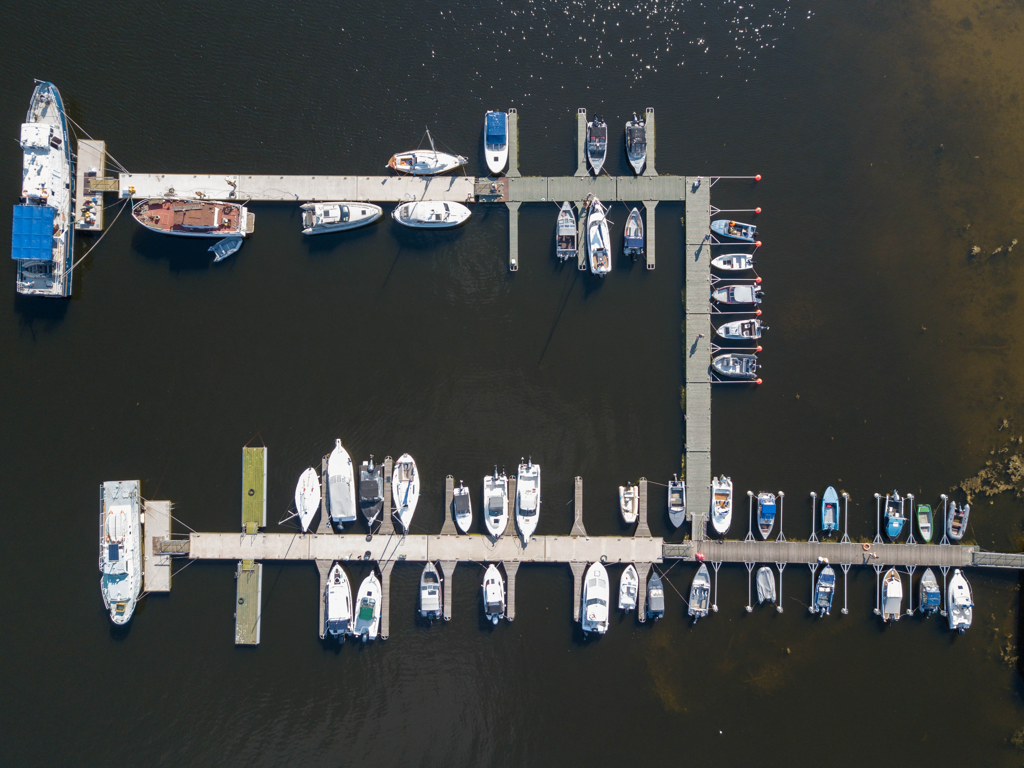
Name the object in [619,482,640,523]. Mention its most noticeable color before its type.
white boat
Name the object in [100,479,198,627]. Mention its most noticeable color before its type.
white ship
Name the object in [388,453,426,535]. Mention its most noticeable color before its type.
white boat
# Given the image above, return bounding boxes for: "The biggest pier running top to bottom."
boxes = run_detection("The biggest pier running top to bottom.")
[685,176,710,520]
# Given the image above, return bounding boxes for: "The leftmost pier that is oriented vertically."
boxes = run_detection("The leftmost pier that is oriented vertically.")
[75,139,107,231]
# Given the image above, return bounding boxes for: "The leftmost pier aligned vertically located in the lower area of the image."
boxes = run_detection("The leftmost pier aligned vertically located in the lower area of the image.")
[144,499,173,591]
